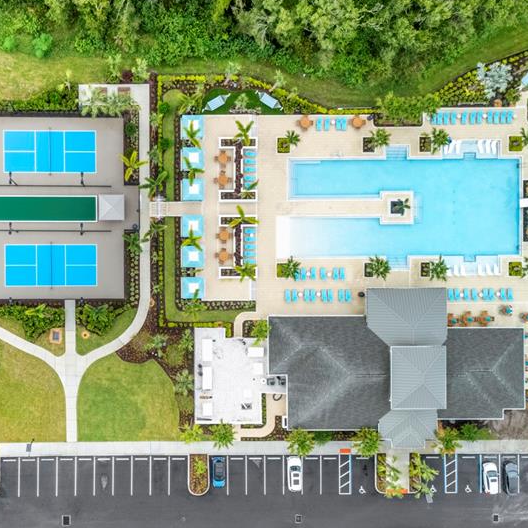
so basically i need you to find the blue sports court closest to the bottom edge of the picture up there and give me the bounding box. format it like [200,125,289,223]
[5,241,97,288]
